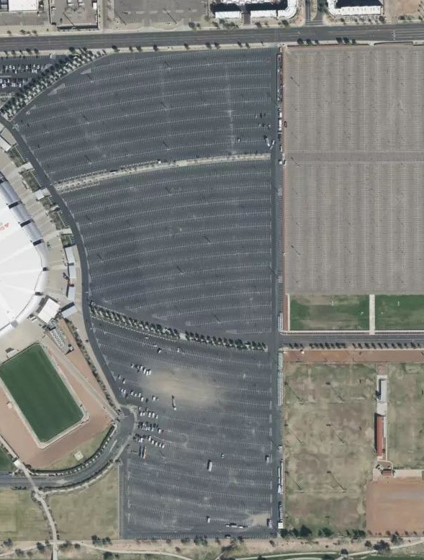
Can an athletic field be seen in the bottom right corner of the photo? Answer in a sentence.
Yes, I can see an athletic field in the bottom right corner of the photo.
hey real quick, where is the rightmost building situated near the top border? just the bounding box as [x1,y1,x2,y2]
[327,0,382,16]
